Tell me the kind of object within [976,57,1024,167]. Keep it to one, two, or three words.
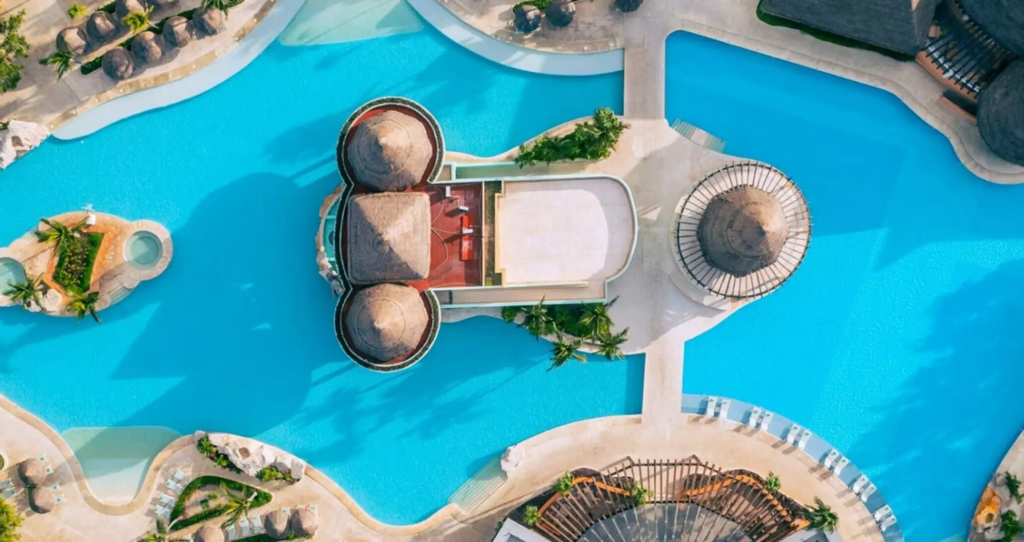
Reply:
building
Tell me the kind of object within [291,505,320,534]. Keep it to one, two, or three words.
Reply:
umbrella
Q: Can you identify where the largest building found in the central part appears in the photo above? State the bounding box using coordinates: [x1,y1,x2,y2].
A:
[334,96,637,372]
